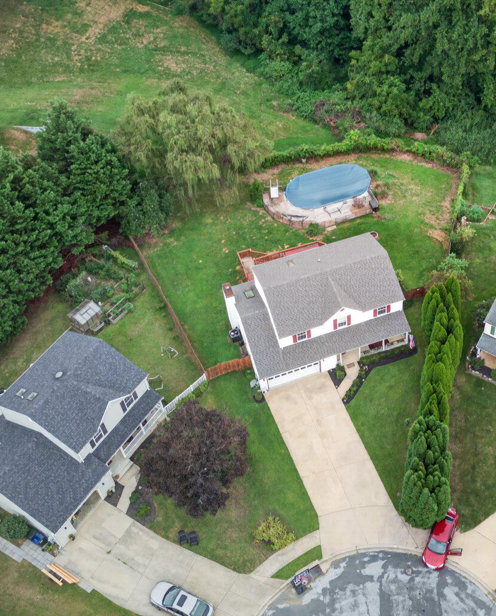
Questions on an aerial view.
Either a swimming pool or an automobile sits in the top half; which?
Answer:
swimming pool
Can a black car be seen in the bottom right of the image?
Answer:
No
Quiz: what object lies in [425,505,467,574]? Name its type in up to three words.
car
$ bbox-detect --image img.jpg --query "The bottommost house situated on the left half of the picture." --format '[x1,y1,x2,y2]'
[0,329,167,546]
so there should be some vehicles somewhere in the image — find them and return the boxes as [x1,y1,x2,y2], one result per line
[425,505,467,574]
[148,583,216,616]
